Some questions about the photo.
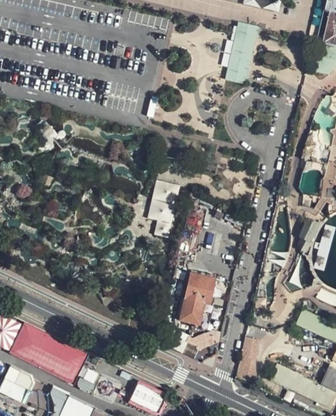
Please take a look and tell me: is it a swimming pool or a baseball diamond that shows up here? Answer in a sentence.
There is a swimming pool in the scene.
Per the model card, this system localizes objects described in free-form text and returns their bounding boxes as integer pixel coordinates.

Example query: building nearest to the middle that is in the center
[148,179,178,235]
